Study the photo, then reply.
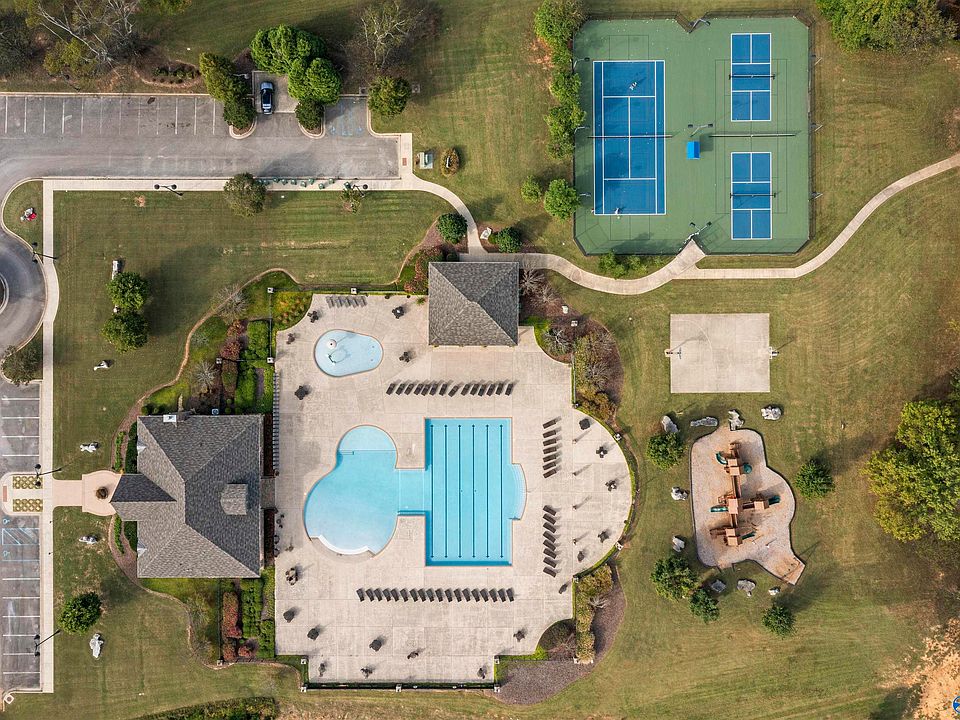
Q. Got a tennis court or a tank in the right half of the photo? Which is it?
tennis court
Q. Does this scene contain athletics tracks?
No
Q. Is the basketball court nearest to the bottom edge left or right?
right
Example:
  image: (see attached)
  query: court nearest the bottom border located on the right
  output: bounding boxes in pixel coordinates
[670,314,771,392]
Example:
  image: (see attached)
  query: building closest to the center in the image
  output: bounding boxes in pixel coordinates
[428,262,520,348]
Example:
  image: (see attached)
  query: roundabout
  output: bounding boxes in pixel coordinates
[0,233,44,351]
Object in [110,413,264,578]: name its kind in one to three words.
building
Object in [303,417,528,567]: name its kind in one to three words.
swimming pool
